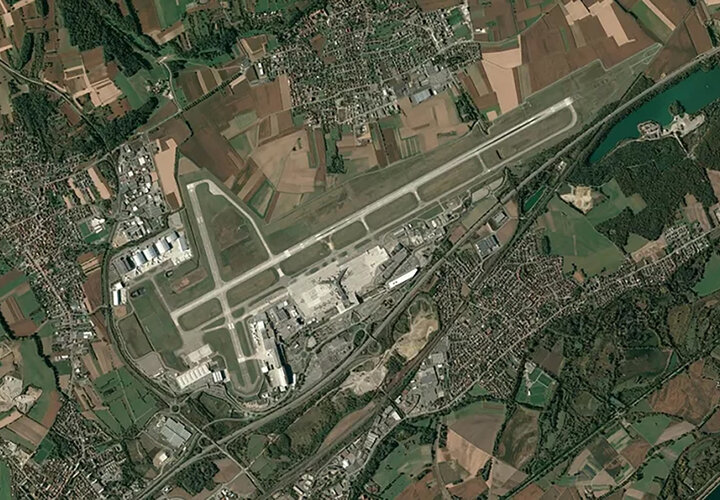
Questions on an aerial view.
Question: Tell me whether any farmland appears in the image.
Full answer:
Yes, the picture does contain farmland.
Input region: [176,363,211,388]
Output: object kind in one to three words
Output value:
hangar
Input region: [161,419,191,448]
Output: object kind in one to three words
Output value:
building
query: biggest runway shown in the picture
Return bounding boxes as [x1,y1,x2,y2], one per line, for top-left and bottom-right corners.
[174,96,576,320]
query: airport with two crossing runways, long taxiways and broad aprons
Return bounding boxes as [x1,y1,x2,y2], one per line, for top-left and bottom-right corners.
[111,44,662,404]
